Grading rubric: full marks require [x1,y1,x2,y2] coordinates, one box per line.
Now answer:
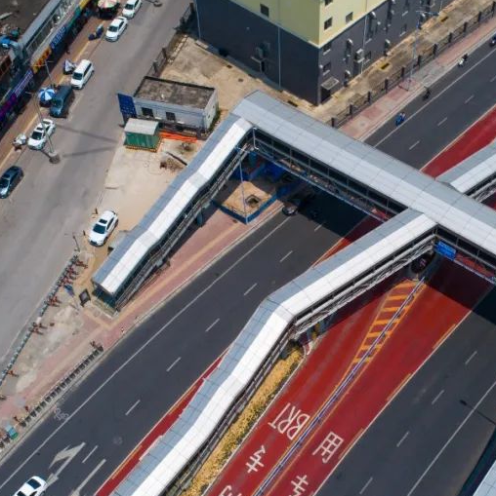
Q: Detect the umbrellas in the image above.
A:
[97,0,120,19]
[38,91,58,110]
